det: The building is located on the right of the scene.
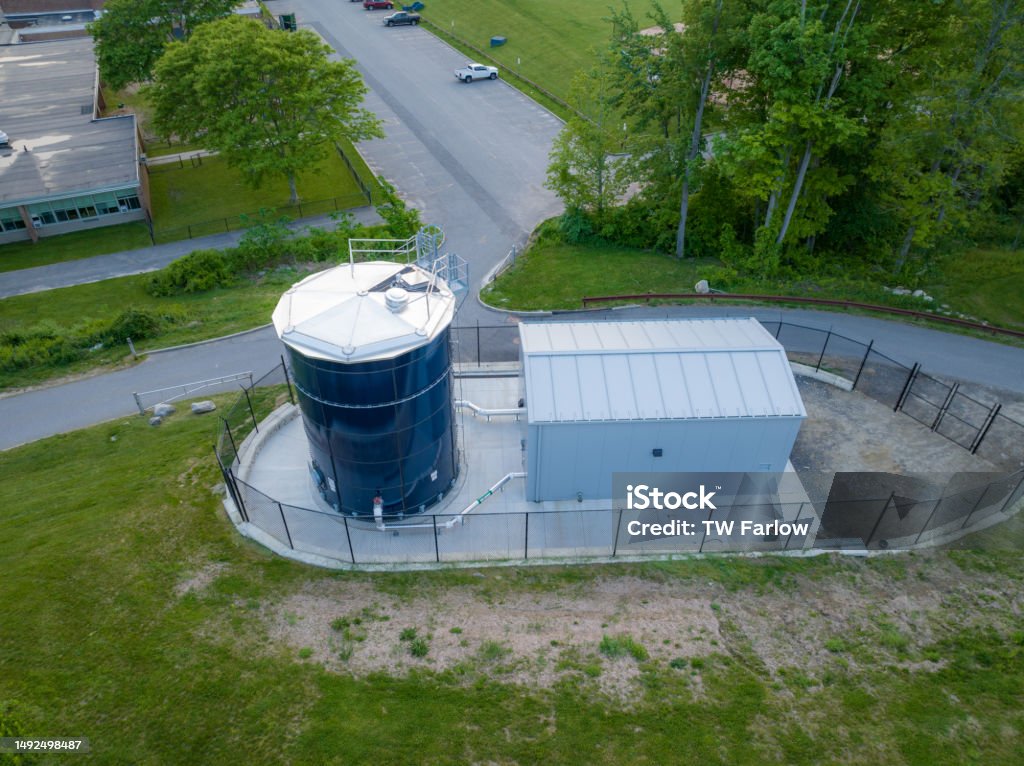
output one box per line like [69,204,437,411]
[512,317,808,504]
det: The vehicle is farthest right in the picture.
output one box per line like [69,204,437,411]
[454,63,502,82]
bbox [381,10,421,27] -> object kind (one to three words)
vehicle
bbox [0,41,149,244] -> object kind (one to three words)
building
